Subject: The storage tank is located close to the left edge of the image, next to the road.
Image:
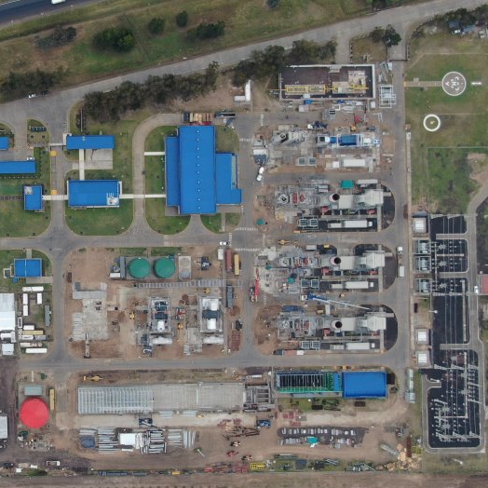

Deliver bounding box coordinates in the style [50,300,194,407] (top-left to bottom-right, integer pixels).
[19,396,48,428]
